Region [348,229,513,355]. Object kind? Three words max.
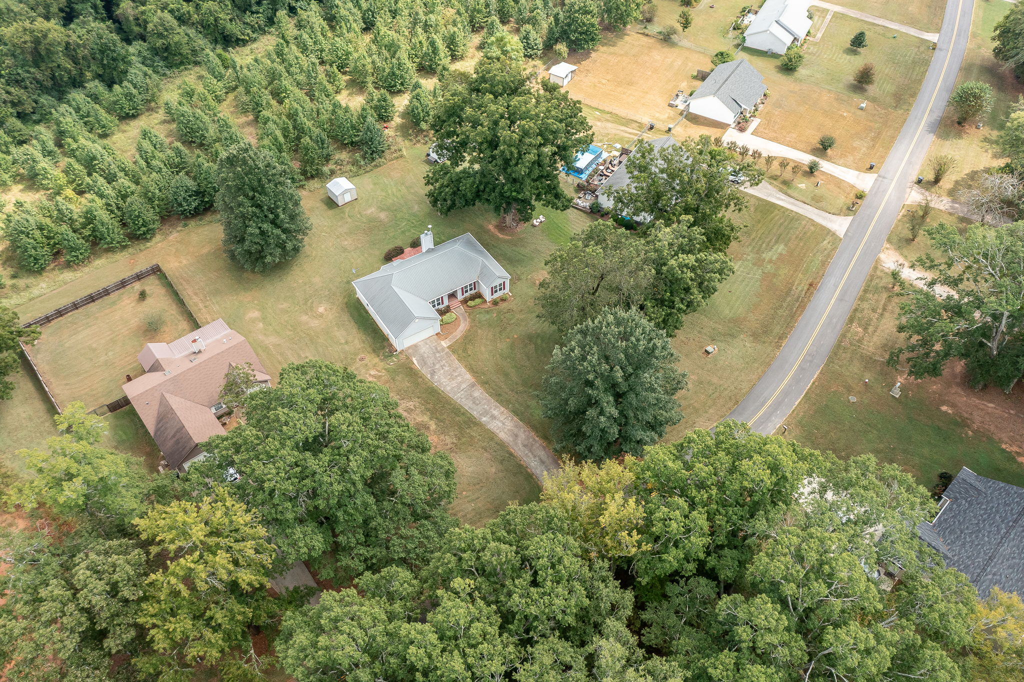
house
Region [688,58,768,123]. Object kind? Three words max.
house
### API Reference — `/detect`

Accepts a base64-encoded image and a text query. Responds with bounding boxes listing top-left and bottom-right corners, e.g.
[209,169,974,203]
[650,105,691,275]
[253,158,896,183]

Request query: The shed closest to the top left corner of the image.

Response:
[328,180,358,206]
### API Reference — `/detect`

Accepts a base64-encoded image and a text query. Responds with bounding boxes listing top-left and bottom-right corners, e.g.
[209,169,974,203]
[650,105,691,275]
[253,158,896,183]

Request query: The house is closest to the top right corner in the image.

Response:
[743,0,814,52]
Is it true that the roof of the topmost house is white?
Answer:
Yes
